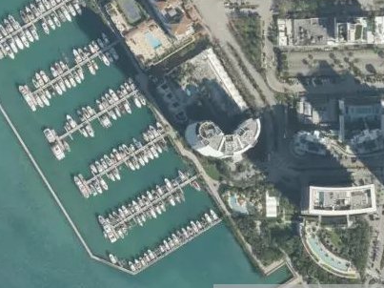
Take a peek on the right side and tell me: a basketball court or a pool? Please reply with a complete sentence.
The one visible on the right side is a pool.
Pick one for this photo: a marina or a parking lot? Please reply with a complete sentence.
It's a marina.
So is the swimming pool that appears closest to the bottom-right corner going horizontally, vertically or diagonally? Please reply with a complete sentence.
What the image shows is the swimming pool that appears closest to the bottom-right corner lying diagonally.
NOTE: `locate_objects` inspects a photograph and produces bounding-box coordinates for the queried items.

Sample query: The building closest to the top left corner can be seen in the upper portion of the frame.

[107,0,144,32]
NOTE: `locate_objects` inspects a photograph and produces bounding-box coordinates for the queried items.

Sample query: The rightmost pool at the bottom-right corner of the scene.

[306,232,352,273]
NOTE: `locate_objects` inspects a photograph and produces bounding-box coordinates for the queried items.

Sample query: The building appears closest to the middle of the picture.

[185,121,224,154]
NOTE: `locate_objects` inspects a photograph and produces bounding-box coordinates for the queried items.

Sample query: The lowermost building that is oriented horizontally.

[303,183,377,218]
